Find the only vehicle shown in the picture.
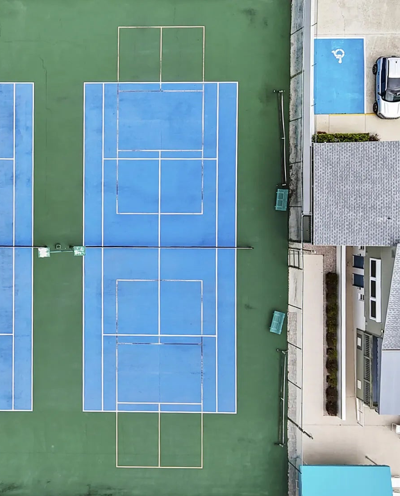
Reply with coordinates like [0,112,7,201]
[372,55,400,120]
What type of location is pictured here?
sports ground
